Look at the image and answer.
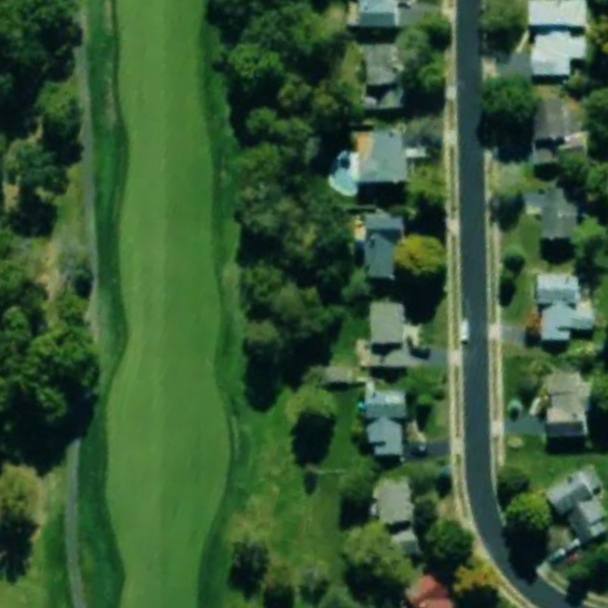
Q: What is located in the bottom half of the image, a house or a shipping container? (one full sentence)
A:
Visible in the bottom half of the image is a house.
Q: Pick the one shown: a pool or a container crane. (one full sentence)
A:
Looking from above, you can make out a pool.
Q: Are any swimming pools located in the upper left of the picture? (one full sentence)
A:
No, in the upper left of the picture there is no swimming pool.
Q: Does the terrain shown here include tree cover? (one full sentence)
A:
Yes, there's tree cover in this view.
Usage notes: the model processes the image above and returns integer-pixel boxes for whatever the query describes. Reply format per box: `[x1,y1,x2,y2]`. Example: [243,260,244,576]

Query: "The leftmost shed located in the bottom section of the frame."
[327,366,353,384]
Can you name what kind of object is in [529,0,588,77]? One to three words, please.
house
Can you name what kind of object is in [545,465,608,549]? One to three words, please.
house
